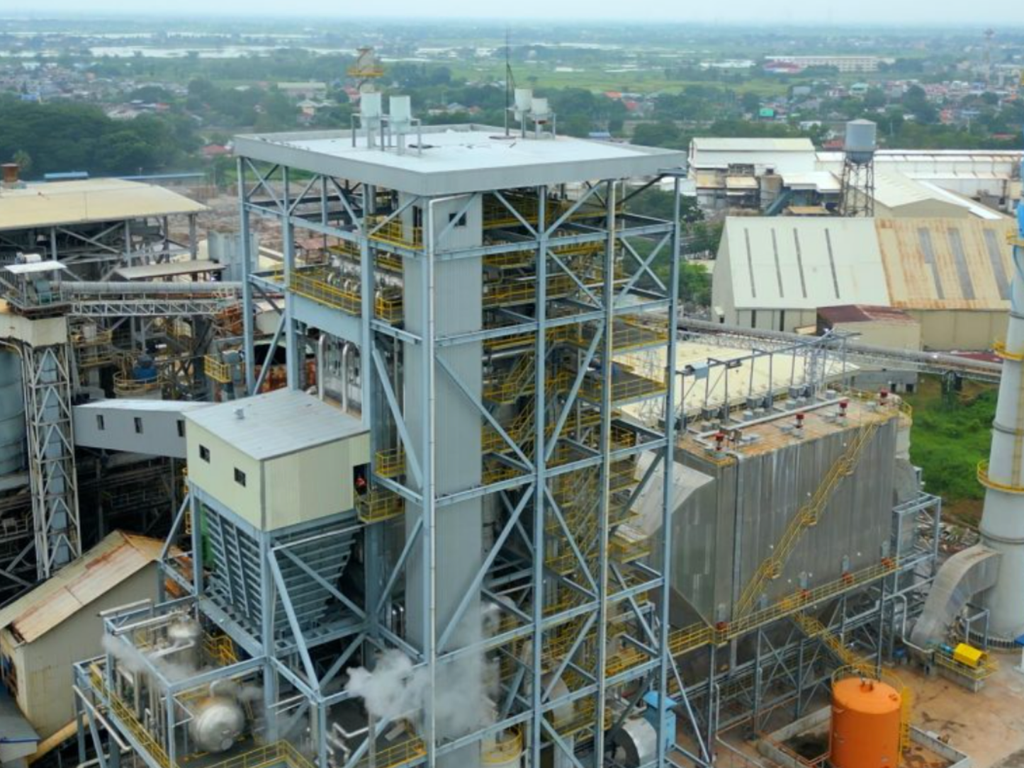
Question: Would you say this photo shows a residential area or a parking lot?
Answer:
residential area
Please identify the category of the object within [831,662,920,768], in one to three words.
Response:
storage tank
